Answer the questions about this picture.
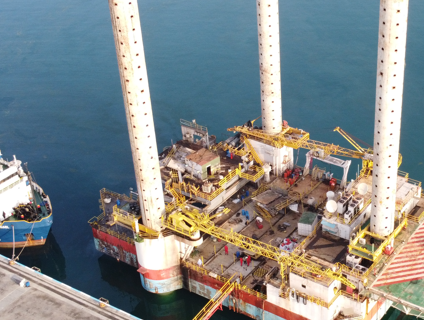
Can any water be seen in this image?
Yes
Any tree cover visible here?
No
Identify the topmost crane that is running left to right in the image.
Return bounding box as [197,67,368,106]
[223,119,374,187]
